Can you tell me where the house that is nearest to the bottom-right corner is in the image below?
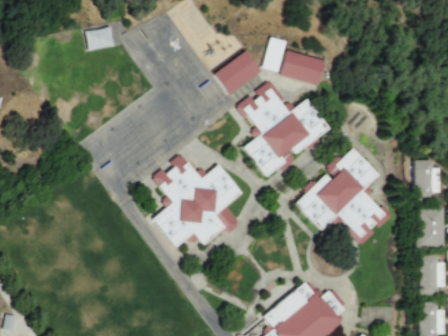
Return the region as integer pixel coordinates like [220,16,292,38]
[420,302,446,336]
